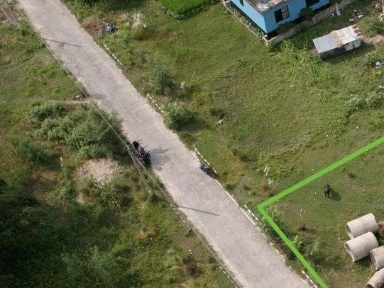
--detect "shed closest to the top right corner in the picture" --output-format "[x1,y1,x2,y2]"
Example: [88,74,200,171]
[313,24,362,59]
